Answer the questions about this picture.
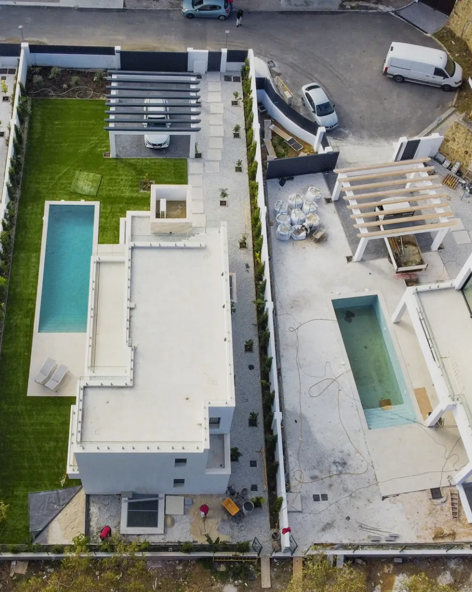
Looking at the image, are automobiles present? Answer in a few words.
Yes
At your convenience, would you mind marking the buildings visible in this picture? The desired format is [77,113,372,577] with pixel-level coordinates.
[65,185,235,494]
[393,252,472,488]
